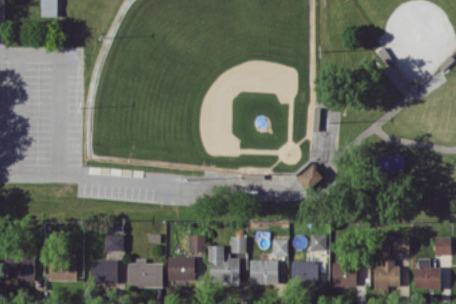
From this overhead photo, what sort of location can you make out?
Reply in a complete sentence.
This looks like a sports ground.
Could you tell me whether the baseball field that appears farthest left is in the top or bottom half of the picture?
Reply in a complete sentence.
It is in the top half that the baseball field that appears farthest left appears.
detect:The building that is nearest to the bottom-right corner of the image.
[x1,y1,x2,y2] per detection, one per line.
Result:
[415,268,441,291]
